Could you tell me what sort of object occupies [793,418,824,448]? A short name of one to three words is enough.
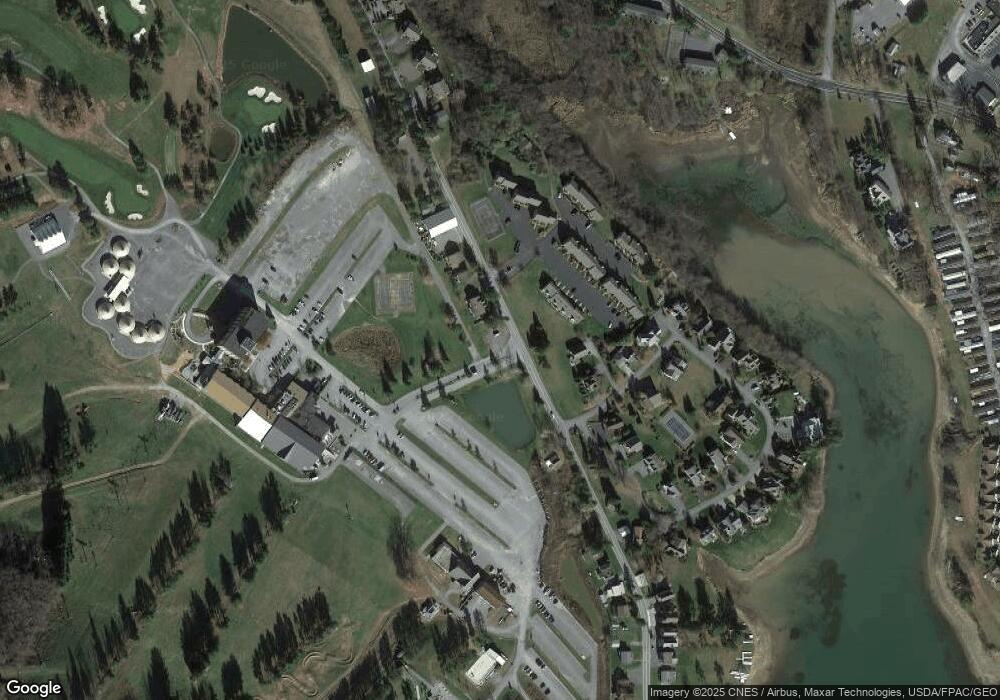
house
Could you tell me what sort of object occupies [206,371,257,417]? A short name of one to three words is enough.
building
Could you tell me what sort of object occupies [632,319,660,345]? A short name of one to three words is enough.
house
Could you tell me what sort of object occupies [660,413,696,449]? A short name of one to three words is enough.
tennis court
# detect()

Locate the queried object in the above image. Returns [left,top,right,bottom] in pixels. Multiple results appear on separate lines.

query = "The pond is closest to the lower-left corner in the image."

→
[458,380,537,450]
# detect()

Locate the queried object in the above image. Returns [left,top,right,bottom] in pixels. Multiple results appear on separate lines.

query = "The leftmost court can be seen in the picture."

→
[375,273,413,314]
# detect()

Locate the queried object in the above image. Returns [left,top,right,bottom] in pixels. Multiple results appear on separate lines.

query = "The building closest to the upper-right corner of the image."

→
[969,16,1000,48]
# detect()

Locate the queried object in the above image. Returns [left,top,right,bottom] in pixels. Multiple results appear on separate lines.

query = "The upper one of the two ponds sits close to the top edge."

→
[222,5,328,105]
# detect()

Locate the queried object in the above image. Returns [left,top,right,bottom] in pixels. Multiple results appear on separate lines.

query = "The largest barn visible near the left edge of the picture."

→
[32,220,66,253]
